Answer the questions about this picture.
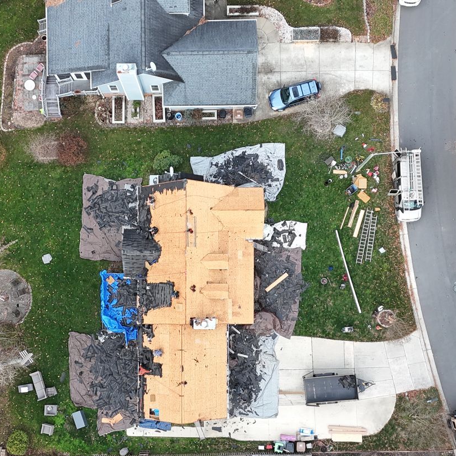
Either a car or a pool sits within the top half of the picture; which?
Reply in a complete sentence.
There is a car within the top half of the picture.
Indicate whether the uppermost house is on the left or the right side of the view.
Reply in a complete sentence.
The uppermost house appears in the left half of the scene.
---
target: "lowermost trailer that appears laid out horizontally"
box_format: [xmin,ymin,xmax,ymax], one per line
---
[309,371,377,405]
